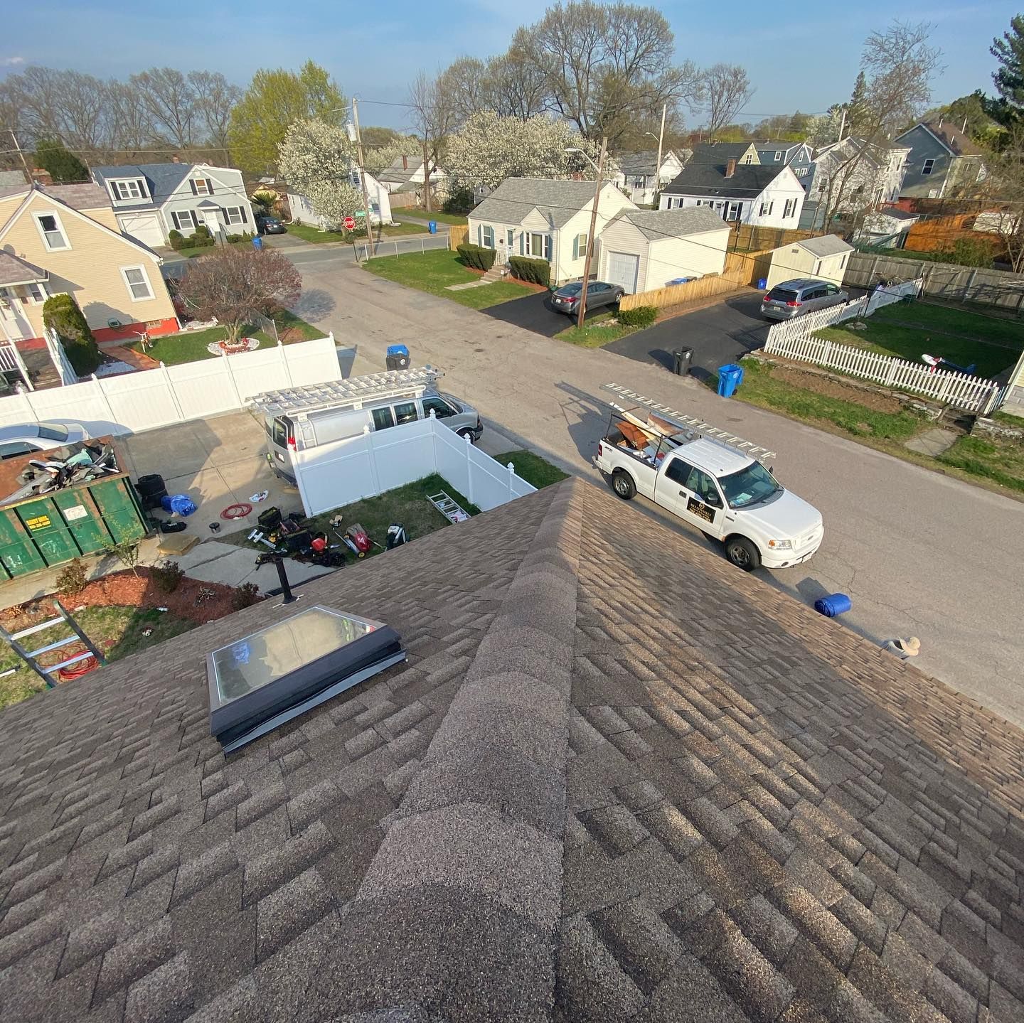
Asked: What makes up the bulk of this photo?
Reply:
buildings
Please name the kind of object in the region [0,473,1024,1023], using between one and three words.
house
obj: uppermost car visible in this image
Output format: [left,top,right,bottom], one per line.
[256,214,283,231]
